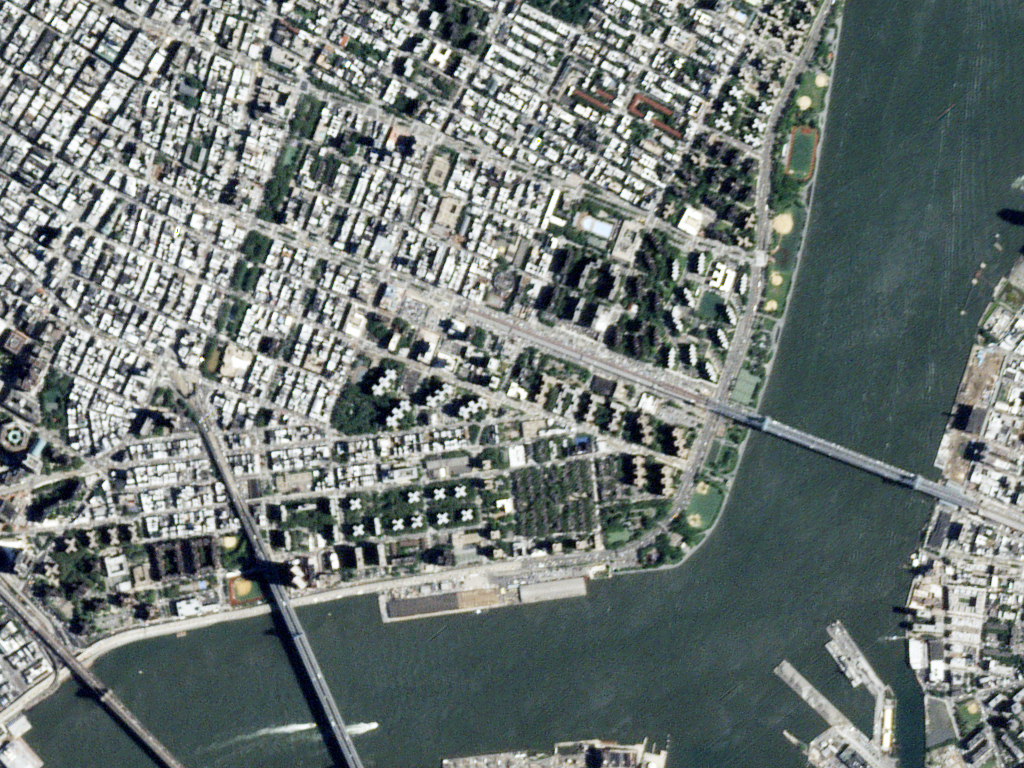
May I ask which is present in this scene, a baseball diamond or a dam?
baseball diamond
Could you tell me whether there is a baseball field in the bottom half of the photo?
Yes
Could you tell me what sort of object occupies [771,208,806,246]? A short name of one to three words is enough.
baseball field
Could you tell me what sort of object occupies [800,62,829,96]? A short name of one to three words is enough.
baseball field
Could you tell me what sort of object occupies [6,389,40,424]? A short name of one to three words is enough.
building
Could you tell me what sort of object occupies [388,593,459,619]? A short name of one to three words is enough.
shed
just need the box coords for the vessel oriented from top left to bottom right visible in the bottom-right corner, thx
[825,641,862,687]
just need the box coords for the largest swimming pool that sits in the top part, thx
[574,210,618,244]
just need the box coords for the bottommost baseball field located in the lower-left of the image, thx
[230,573,264,604]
